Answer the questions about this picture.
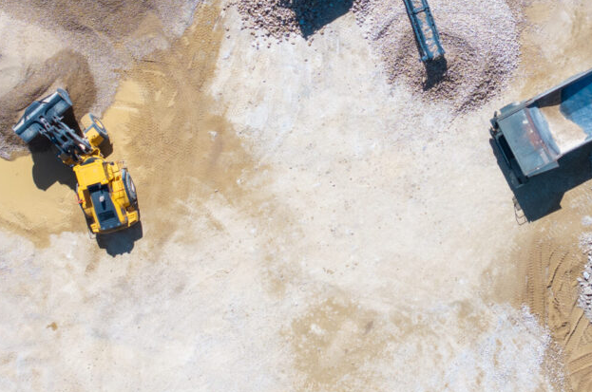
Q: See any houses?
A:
No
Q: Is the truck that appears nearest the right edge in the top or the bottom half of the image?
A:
top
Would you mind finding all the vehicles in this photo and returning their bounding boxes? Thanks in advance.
[16,87,140,239]
[492,69,592,177]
